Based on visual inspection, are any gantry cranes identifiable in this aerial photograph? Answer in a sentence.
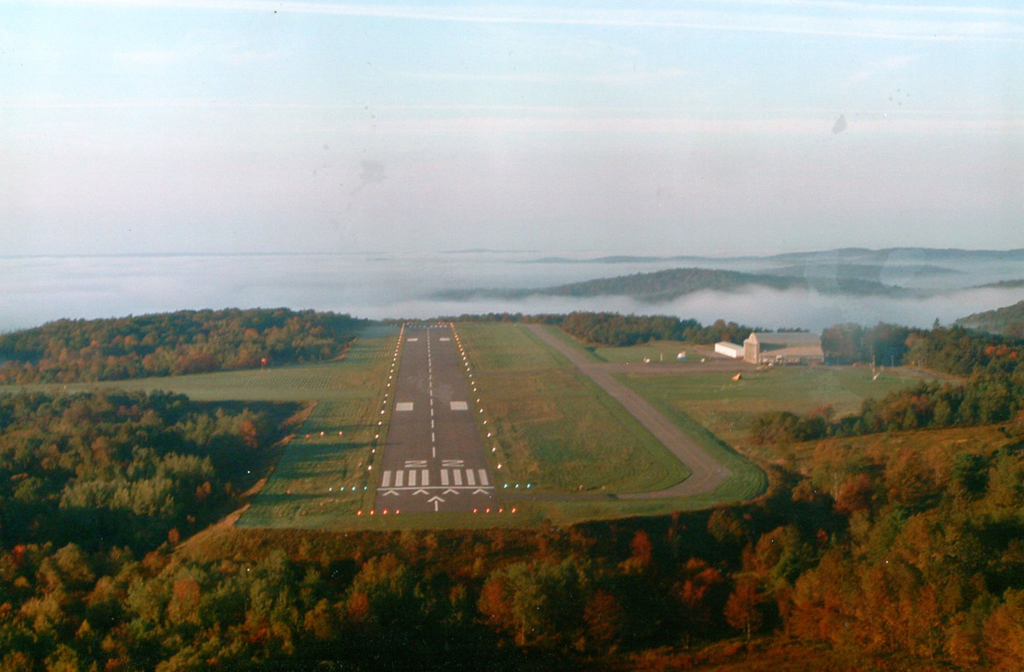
No, the photo shows no gantry crane.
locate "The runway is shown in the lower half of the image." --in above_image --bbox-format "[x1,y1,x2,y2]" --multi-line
[373,323,499,512]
